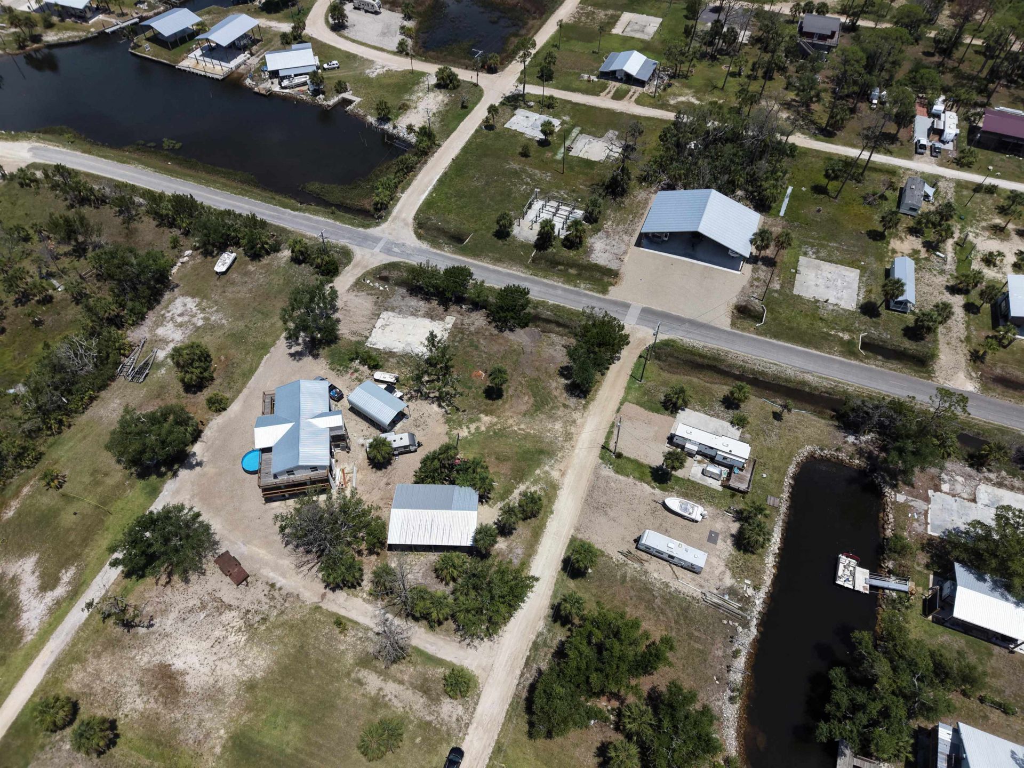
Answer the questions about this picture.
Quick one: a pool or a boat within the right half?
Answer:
boat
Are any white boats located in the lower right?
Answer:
Yes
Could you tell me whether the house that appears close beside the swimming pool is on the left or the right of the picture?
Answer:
left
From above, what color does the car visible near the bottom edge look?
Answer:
black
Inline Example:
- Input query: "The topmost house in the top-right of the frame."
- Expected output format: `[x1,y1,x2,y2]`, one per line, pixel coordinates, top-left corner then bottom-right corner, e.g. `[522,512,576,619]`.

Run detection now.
[788,13,839,65]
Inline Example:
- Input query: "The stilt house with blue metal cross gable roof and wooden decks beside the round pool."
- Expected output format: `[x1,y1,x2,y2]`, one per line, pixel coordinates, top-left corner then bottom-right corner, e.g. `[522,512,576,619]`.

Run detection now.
[254,380,351,504]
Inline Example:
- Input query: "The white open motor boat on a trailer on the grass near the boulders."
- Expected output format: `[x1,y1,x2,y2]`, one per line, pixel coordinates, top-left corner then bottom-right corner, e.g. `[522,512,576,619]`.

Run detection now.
[214,249,235,280]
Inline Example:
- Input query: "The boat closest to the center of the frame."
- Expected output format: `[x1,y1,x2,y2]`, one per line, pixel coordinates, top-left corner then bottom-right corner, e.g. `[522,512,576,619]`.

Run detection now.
[370,372,401,384]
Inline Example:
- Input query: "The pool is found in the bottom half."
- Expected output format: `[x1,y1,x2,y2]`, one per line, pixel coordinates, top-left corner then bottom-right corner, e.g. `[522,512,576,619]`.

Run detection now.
[237,448,265,476]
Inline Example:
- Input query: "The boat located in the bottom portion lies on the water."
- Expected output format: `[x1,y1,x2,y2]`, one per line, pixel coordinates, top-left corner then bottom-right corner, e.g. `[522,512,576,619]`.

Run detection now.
[831,549,858,593]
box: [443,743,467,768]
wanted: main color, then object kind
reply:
black car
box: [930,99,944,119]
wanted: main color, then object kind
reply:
white vehicle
